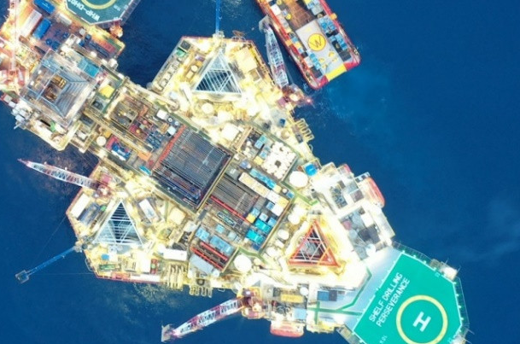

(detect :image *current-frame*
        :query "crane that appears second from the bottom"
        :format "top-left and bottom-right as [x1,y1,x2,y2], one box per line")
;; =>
[21,156,118,200]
